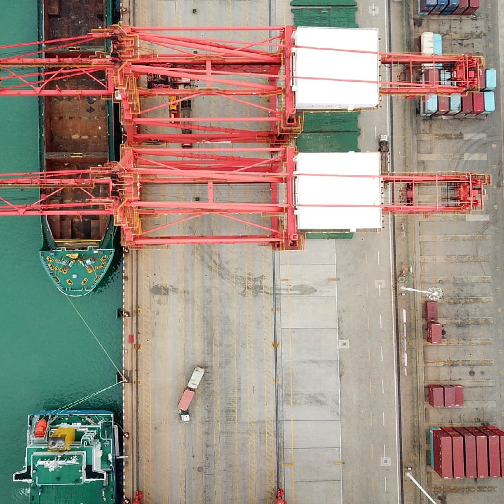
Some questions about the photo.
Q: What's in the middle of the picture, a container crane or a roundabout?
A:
container crane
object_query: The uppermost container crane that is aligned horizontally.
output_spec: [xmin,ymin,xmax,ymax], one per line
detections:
[0,21,489,154]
